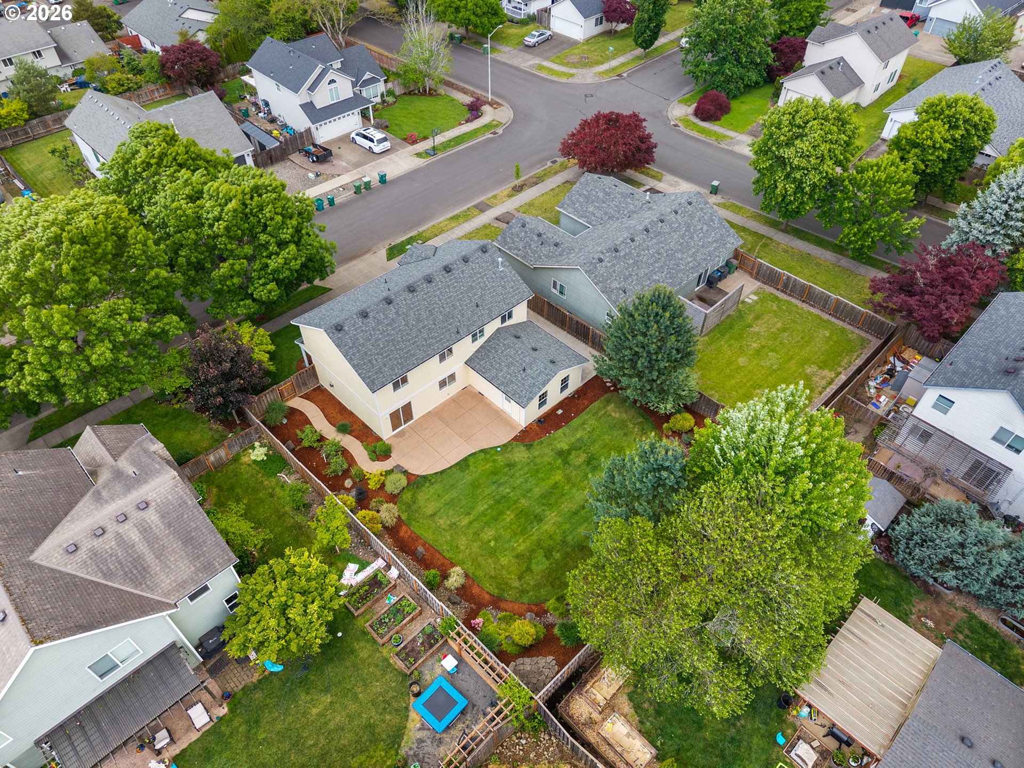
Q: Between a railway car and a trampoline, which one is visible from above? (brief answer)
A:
trampoline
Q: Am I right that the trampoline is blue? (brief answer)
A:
Yes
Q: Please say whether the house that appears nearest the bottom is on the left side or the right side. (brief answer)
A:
right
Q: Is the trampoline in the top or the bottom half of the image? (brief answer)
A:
bottom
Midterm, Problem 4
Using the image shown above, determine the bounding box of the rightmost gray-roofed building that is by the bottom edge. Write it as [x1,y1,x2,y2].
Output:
[878,642,1024,768]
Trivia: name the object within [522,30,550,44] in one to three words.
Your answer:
car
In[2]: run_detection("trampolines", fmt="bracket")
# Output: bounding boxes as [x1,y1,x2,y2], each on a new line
[412,676,468,736]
